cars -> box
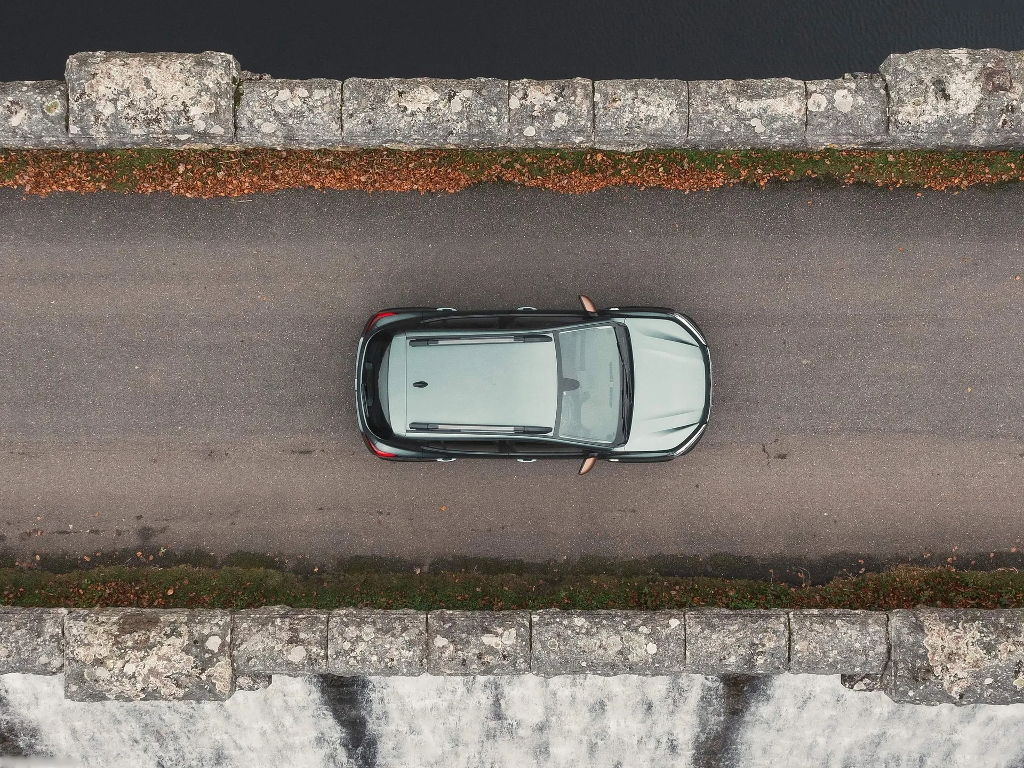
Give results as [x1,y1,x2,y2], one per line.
[355,294,714,474]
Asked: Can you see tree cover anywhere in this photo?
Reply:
No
